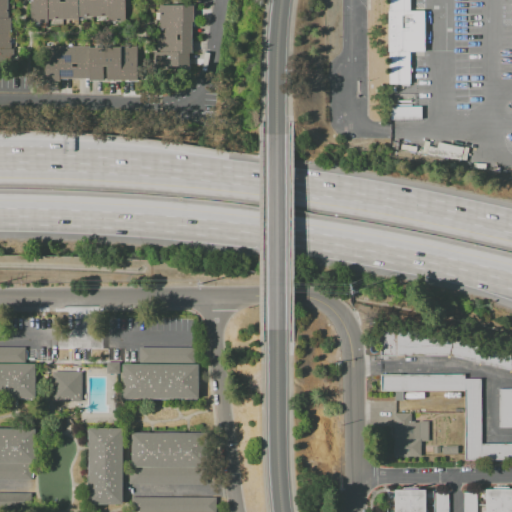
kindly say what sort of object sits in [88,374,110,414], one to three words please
swimming pool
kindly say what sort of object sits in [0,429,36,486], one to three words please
building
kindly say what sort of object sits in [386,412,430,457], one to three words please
house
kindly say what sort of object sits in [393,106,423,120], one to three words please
shed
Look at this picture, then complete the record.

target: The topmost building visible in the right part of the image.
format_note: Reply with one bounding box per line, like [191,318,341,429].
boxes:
[388,0,426,54]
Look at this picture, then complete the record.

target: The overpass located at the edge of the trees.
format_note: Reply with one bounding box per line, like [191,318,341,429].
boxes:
[263,122,294,336]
